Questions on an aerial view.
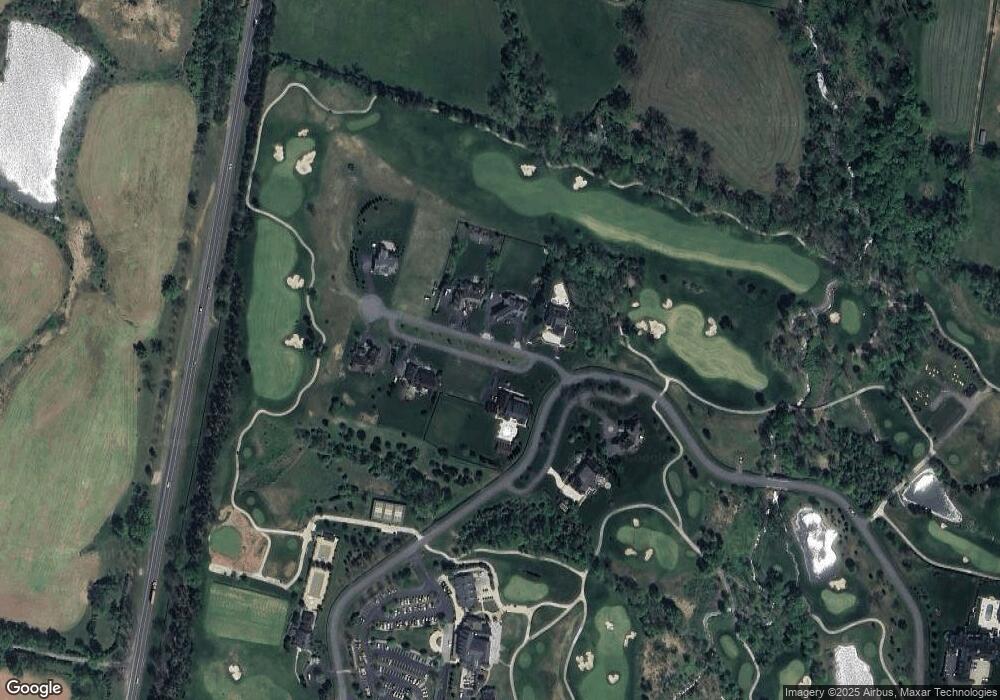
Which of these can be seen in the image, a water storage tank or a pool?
pool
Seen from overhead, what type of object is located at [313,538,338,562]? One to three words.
swimming pool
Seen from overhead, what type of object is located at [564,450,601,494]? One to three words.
house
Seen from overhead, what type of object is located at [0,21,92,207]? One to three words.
pond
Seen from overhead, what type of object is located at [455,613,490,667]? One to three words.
building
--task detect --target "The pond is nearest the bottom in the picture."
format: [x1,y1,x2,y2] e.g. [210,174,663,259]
[833,643,876,700]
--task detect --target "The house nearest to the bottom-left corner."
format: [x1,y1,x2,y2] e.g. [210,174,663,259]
[289,610,316,654]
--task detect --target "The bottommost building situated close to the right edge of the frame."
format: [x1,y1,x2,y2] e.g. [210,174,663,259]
[943,625,1000,675]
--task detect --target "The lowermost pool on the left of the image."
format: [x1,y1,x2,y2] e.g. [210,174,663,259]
[305,566,329,608]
